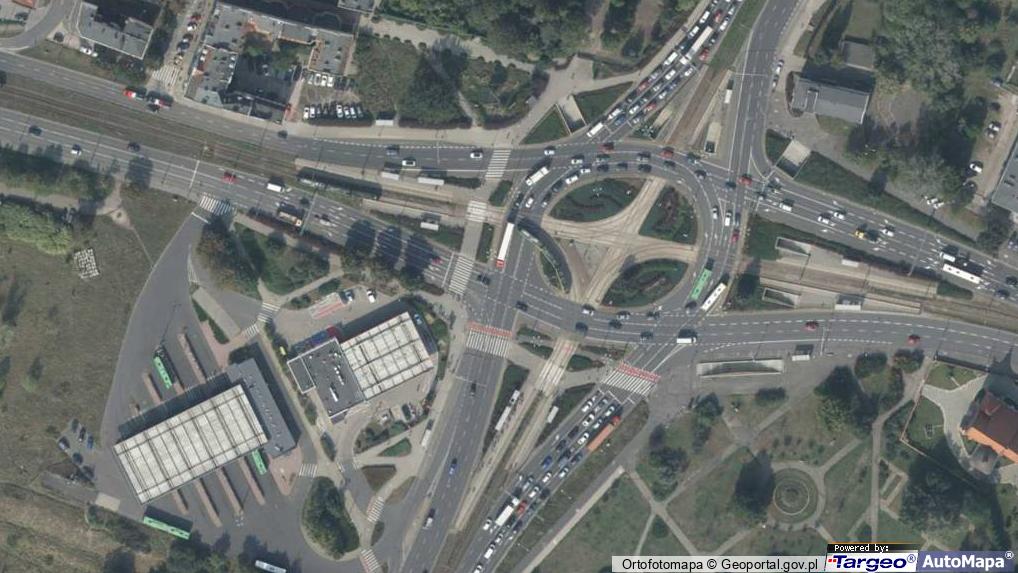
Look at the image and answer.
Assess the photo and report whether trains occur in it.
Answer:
Yes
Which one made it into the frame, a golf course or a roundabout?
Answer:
roundabout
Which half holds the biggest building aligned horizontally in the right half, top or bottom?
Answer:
top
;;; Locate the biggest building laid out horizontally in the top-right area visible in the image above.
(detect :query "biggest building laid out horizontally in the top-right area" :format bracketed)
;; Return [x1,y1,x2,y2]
[793,75,871,123]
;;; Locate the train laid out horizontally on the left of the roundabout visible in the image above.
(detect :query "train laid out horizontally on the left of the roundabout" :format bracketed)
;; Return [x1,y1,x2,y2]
[297,176,372,199]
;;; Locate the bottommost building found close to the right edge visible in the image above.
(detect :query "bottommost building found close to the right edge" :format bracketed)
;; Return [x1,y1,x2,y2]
[970,390,1018,469]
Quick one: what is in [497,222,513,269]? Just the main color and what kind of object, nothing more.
white vehicle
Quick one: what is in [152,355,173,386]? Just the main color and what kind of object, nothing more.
green bus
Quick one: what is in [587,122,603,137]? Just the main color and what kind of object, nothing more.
white vehicle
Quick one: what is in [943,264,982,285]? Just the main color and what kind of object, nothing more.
white bus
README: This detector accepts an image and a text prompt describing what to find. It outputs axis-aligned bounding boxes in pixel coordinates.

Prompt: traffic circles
[502,146,741,341]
